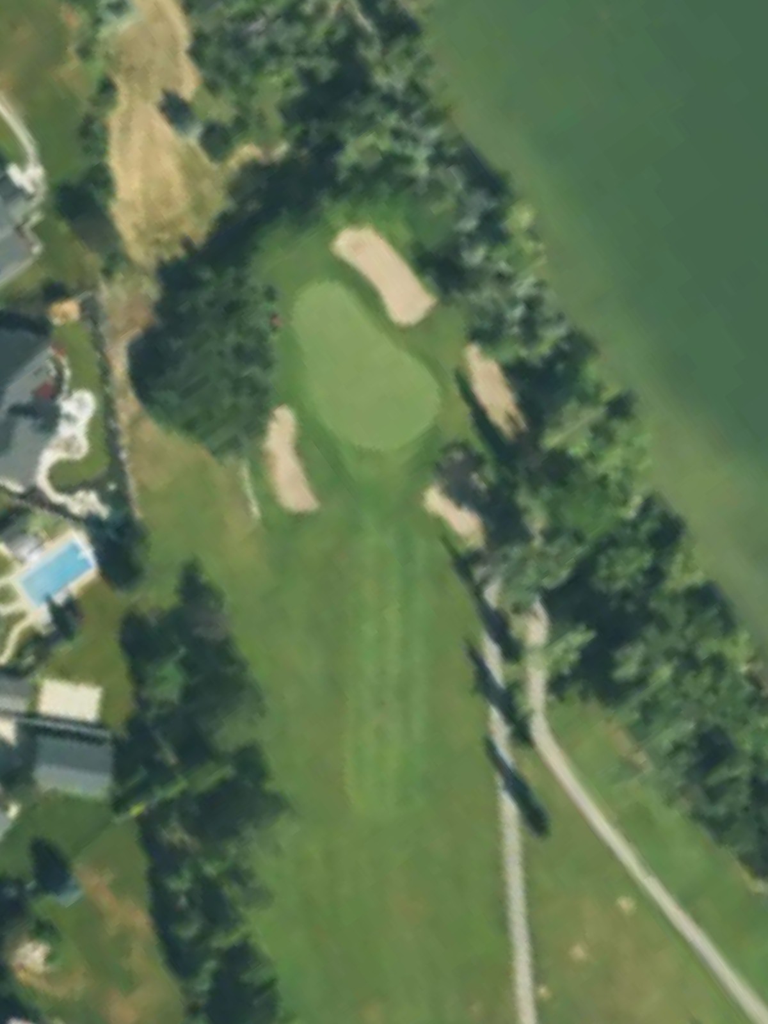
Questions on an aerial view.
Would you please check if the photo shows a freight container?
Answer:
No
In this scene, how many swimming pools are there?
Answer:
1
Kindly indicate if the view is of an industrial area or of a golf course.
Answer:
golf course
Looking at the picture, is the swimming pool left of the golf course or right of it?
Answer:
left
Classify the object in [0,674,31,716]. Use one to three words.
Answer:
shed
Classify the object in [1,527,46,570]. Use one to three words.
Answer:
building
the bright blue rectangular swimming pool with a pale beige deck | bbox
[9,533,103,628]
